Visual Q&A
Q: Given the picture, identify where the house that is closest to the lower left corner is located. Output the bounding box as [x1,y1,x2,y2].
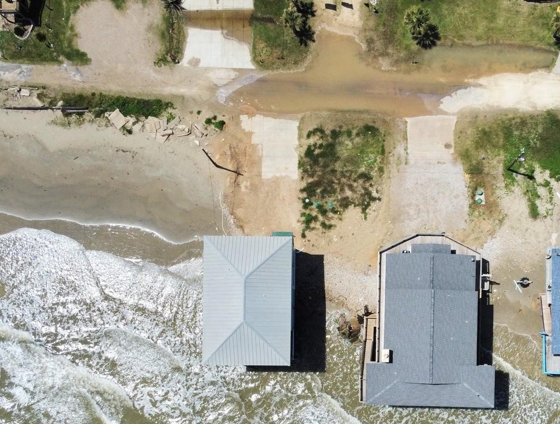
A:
[202,231,297,367]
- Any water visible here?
Yes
